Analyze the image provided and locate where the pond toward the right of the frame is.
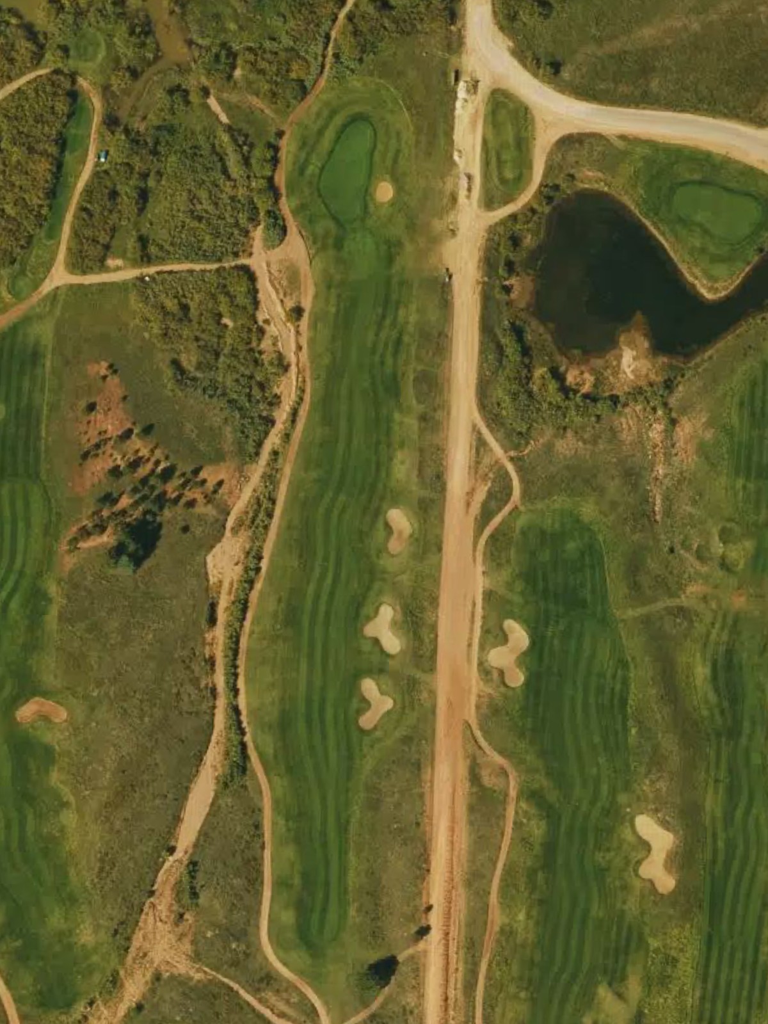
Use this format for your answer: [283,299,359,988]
[532,186,768,365]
